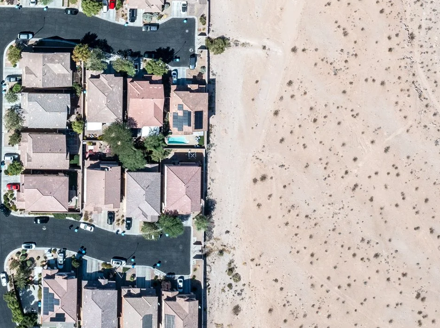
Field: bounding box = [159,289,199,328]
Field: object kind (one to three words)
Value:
house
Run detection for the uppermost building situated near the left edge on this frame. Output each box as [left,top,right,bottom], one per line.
[18,52,72,89]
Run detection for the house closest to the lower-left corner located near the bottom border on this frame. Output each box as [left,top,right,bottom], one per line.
[41,268,77,323]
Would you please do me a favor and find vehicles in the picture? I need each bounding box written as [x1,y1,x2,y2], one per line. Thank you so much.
[125,216,132,231]
[57,252,64,269]
[101,0,108,14]
[80,222,94,231]
[0,203,11,218]
[176,278,183,293]
[110,257,126,266]
[171,69,177,84]
[0,271,7,287]
[6,75,20,82]
[2,155,18,161]
[30,0,36,7]
[6,183,20,190]
[108,210,115,226]
[188,55,196,71]
[34,216,49,224]
[64,8,80,15]
[142,25,158,32]
[181,1,188,15]
[22,241,36,248]
[130,9,136,24]
[109,0,115,10]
